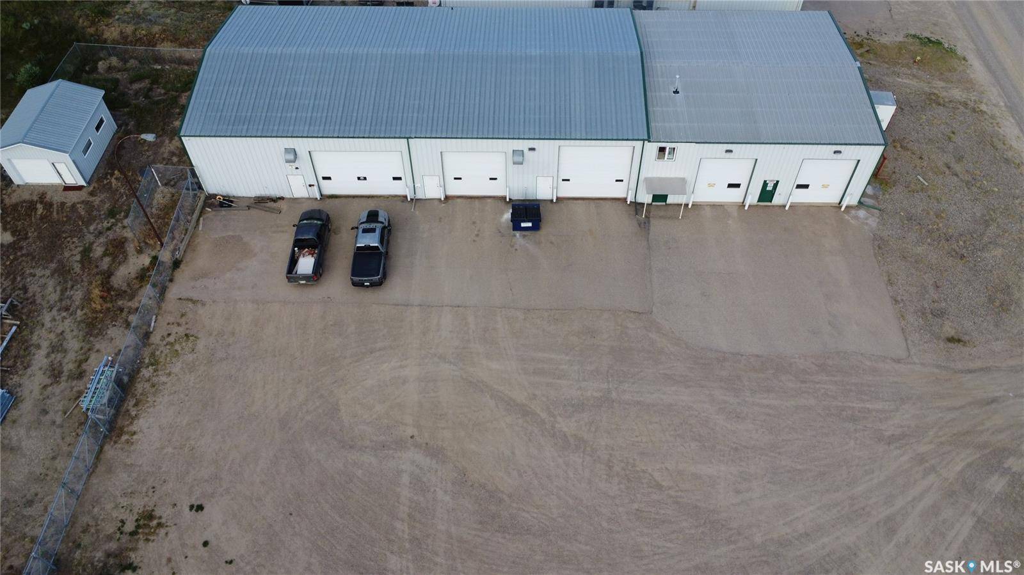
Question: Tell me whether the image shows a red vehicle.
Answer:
No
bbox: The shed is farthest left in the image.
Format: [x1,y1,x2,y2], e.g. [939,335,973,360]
[0,83,116,191]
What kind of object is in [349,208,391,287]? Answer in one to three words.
truck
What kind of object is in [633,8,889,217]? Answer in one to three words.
building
